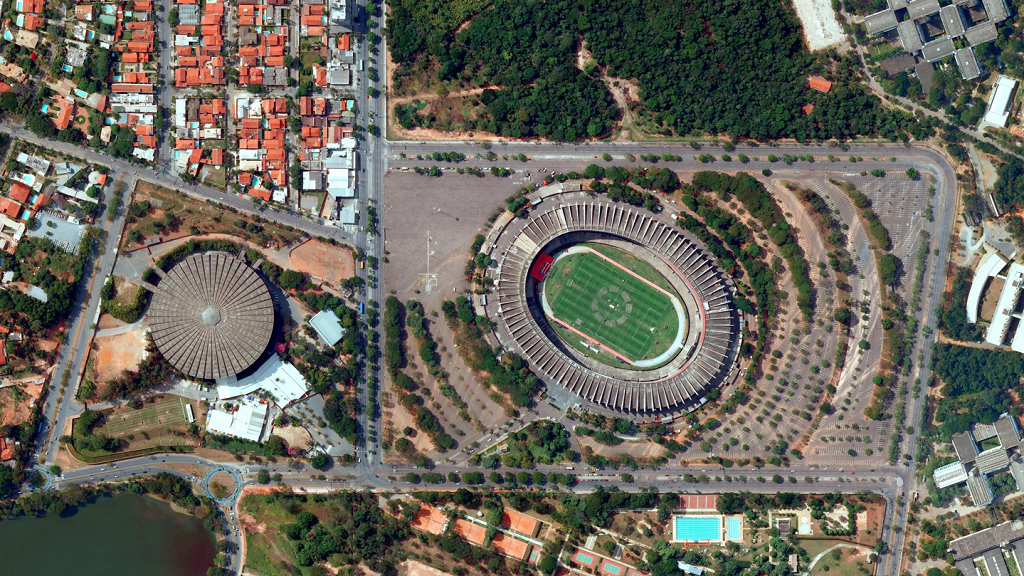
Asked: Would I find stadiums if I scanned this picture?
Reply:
Yes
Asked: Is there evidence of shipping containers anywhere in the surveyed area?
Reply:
No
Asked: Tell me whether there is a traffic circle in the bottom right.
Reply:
No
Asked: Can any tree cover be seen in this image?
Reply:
Yes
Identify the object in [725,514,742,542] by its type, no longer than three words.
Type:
swimming pool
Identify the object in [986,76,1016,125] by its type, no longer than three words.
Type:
building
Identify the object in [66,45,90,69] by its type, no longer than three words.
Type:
house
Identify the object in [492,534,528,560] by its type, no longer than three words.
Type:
tennis court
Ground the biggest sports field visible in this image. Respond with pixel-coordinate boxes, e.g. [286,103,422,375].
[552,251,671,361]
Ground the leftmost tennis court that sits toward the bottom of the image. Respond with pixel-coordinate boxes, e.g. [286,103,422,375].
[411,502,447,534]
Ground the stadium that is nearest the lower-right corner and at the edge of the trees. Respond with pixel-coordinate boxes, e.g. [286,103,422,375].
[494,200,733,413]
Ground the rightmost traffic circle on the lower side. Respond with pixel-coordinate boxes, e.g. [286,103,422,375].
[202,464,243,505]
